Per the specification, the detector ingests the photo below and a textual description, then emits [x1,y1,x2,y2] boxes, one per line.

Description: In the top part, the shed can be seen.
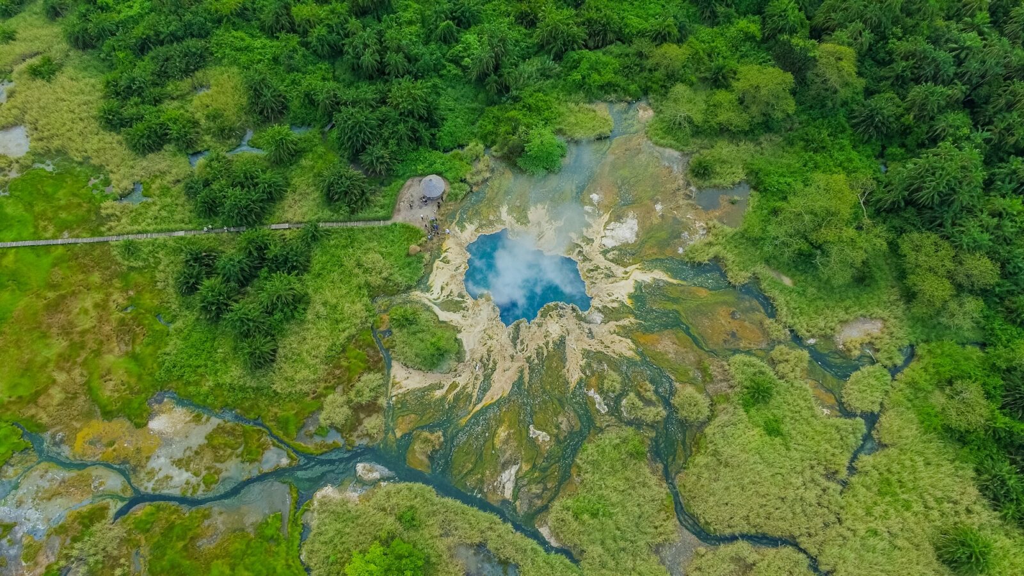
[420,177,445,202]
